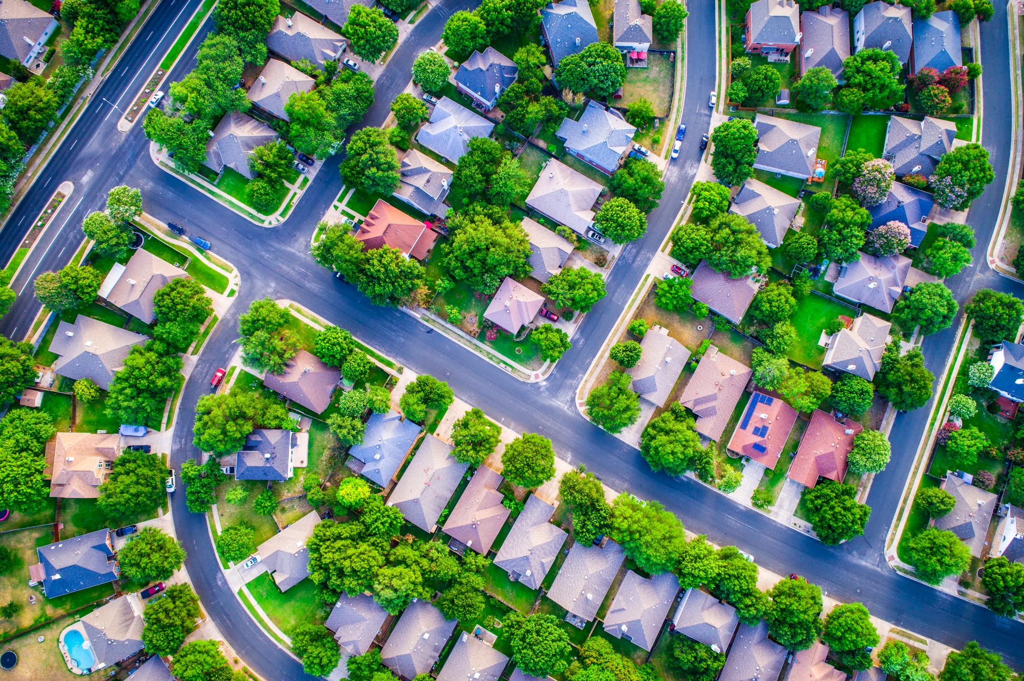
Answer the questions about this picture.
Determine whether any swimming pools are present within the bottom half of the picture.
Yes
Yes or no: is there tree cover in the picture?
Yes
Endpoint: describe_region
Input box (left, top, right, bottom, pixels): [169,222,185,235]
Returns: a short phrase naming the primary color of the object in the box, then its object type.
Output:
blue vehicle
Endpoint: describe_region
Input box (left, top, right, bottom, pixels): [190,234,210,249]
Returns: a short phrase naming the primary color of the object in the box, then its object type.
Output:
blue vehicle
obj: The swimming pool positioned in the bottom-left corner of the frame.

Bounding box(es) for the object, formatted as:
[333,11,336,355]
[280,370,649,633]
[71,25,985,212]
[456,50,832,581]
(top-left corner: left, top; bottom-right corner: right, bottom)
[59,622,100,675]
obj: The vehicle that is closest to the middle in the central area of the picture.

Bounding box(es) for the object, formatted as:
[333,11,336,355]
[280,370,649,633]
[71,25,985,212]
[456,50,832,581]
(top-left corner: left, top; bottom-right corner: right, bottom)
[539,307,559,322]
